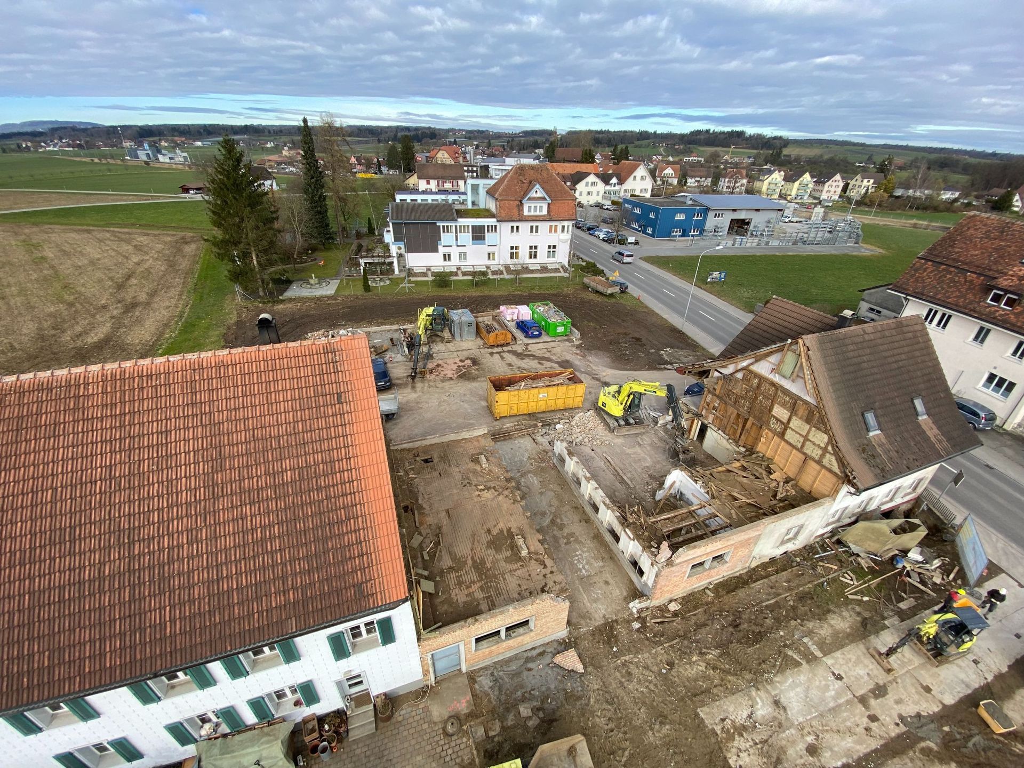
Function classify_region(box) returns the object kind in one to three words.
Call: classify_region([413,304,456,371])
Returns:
work vehicle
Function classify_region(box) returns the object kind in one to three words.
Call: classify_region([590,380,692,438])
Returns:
work vehicle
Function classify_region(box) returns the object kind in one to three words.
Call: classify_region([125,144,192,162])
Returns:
building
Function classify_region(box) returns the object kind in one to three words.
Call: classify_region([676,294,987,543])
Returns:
house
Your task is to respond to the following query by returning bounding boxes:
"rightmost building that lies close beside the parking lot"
[870,211,1024,425]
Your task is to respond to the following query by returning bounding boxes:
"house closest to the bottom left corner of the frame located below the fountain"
[0,311,422,768]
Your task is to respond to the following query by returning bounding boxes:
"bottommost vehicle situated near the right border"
[878,598,1001,684]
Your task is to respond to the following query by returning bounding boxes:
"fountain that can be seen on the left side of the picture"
[294,269,333,290]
